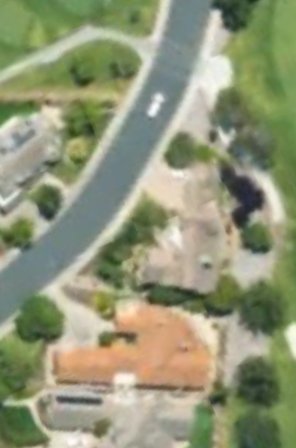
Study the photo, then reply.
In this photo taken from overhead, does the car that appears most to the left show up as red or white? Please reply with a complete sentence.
In this view, the car that appears most to the left is white.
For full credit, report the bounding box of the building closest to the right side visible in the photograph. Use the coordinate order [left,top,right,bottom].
[140,174,226,291]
